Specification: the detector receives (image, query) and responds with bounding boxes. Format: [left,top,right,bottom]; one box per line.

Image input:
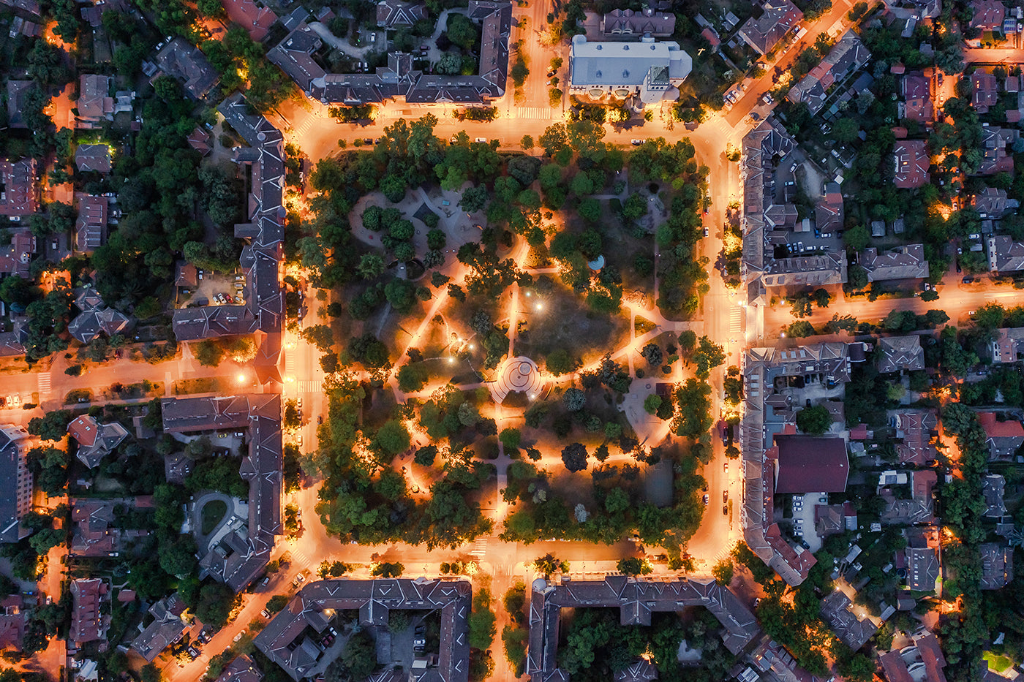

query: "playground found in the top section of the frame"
[350,182,487,270]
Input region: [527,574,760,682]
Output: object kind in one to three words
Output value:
building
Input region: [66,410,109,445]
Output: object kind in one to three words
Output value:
house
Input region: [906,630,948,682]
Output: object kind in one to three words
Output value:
house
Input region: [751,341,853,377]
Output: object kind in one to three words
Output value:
building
